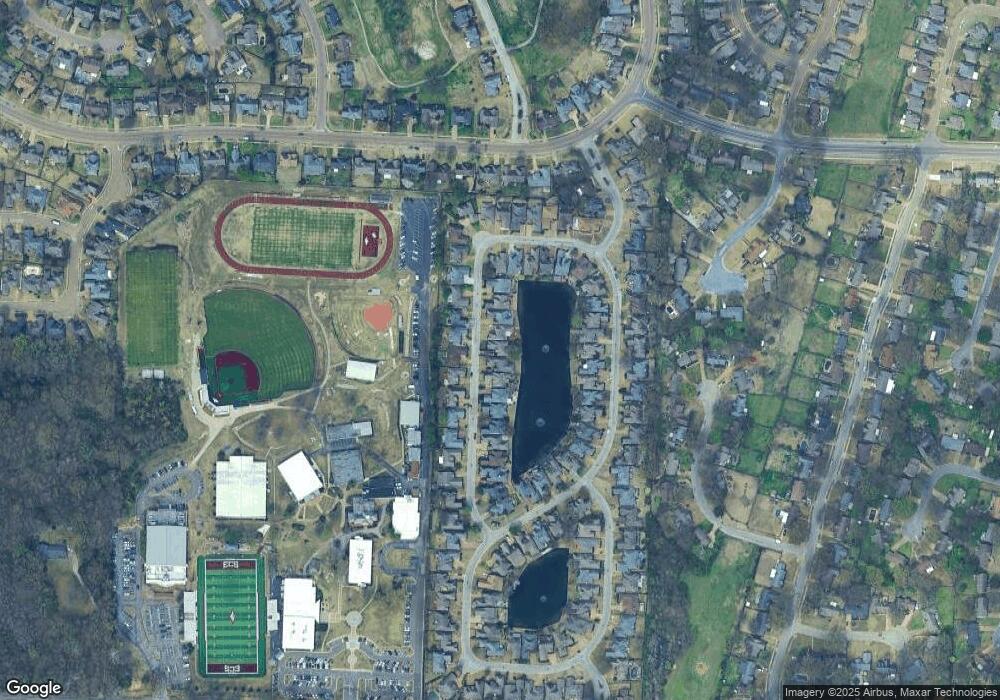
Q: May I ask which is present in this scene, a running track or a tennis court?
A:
running track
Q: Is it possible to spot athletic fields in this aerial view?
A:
Yes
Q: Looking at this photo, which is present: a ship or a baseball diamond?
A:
baseball diamond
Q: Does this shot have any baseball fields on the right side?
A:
No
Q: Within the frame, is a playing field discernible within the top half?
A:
Yes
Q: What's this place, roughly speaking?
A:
residential area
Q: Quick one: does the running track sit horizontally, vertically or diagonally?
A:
horizontally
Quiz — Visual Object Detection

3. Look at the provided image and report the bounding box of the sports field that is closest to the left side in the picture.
[127,250,179,366]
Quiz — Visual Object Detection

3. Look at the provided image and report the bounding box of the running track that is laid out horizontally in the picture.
[215,196,393,277]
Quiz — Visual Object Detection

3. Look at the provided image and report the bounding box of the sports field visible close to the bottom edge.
[196,554,266,679]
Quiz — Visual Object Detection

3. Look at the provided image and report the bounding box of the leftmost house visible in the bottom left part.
[37,545,65,557]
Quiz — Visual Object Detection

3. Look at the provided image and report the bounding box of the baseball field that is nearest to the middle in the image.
[331,296,395,362]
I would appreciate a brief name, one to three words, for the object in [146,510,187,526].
building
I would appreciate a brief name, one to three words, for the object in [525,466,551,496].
house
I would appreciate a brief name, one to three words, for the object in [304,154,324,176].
house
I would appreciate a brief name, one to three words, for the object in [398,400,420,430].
building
